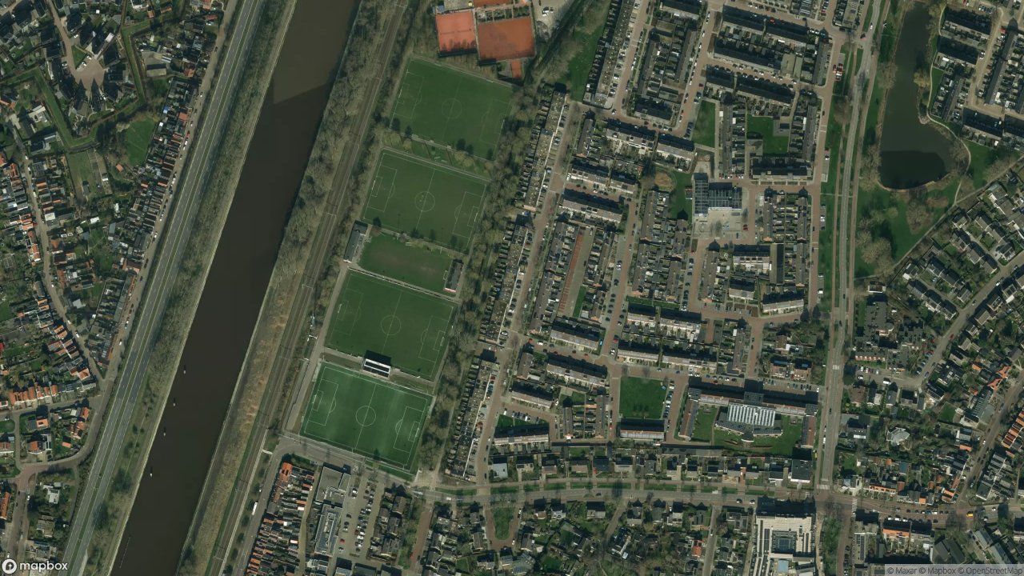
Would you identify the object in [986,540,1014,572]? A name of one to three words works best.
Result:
house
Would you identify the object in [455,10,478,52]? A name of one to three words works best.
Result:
tennis court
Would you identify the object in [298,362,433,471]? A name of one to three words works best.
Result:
soccer field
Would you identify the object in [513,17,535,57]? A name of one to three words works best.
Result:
tennis court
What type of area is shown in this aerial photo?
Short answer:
residential area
